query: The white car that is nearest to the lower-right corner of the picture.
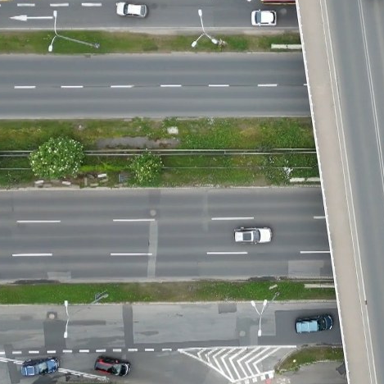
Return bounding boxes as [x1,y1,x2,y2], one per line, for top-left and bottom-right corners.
[233,225,272,245]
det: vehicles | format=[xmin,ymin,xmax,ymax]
[251,9,276,27]
[93,354,131,377]
[233,225,272,245]
[260,0,296,5]
[116,2,148,18]
[294,313,334,333]
[19,355,60,377]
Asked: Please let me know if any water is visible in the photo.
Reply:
No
